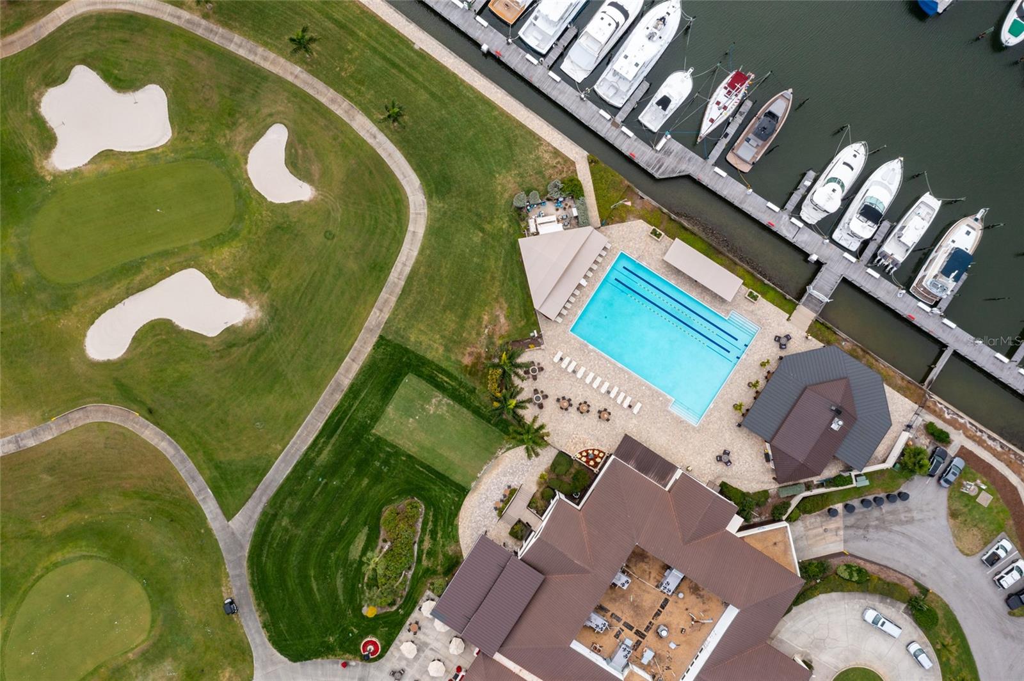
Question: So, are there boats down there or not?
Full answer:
Yes, the photo shows a boat.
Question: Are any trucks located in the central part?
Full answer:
No, there's no truck to be seen in the central part.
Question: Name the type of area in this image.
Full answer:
It's a golf course.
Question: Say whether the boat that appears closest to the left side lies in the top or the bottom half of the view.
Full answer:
The boat that appears closest to the left side is in the top half of the image.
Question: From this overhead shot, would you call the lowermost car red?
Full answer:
No, the color of the lowermost car is white.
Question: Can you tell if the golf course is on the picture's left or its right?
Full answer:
The golf course sits on the left side.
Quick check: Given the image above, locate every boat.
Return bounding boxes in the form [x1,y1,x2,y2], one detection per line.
[999,0,1024,47]
[907,202,996,305]
[594,0,684,108]
[559,0,644,85]
[639,64,695,133]
[834,153,908,252]
[797,139,871,226]
[729,88,794,172]
[520,0,585,55]
[490,0,531,26]
[697,69,752,143]
[875,190,945,268]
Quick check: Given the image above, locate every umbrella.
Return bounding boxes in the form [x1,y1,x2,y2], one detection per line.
[428,658,445,676]
[448,636,466,653]
[421,598,437,616]
[401,640,419,658]
[434,618,449,631]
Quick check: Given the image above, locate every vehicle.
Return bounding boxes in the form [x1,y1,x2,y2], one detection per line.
[927,444,950,479]
[991,557,1024,588]
[904,638,935,673]
[976,535,1013,570]
[936,454,966,489]
[1002,587,1024,609]
[858,606,903,638]
[222,597,239,617]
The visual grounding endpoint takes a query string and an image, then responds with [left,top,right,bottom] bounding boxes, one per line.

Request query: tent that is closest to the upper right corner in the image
[518,226,609,321]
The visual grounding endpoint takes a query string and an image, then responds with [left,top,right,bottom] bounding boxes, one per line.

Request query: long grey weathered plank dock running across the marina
[422,0,1024,396]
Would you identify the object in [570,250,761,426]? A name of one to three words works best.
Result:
swimming pool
